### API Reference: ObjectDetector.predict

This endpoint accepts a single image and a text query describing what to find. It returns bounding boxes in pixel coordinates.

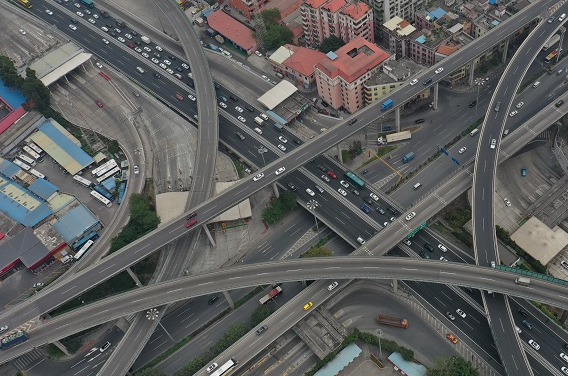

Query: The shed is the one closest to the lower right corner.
[387,351,425,376]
